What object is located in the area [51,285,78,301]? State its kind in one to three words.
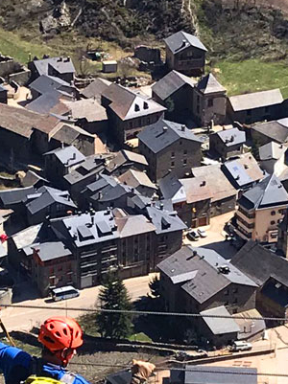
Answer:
vehicle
